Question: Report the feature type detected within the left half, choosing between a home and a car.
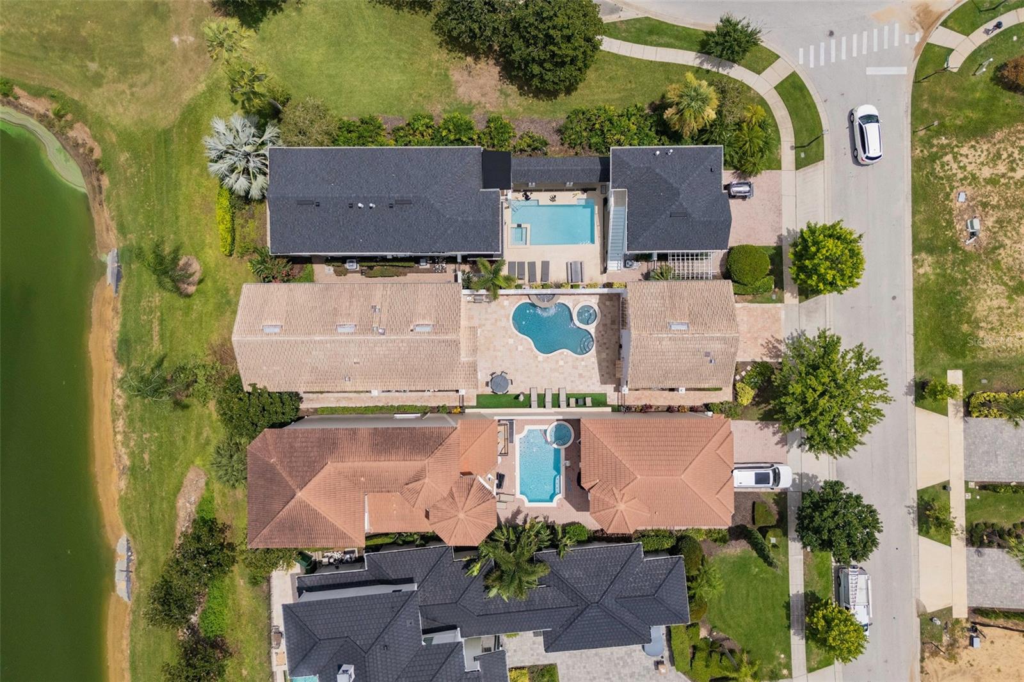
home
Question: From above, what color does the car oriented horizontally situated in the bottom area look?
white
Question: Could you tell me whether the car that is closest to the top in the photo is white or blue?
white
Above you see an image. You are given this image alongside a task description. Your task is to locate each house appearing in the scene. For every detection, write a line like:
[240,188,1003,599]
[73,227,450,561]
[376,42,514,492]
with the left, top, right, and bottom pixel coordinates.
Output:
[245,407,499,550]
[577,405,735,535]
[281,535,691,682]
[606,144,731,253]
[618,280,740,394]
[266,146,512,266]
[231,283,478,396]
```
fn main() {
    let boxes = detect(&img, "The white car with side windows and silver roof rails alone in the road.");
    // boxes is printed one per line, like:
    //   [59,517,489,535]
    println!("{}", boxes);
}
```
[850,107,883,165]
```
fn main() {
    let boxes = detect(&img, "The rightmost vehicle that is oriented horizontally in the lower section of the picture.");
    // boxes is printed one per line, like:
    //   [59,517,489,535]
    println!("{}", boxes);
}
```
[733,463,791,492]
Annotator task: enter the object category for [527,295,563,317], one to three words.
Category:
fountain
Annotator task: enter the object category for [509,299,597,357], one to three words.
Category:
swimming pool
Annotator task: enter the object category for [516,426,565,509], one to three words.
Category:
swimming pool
